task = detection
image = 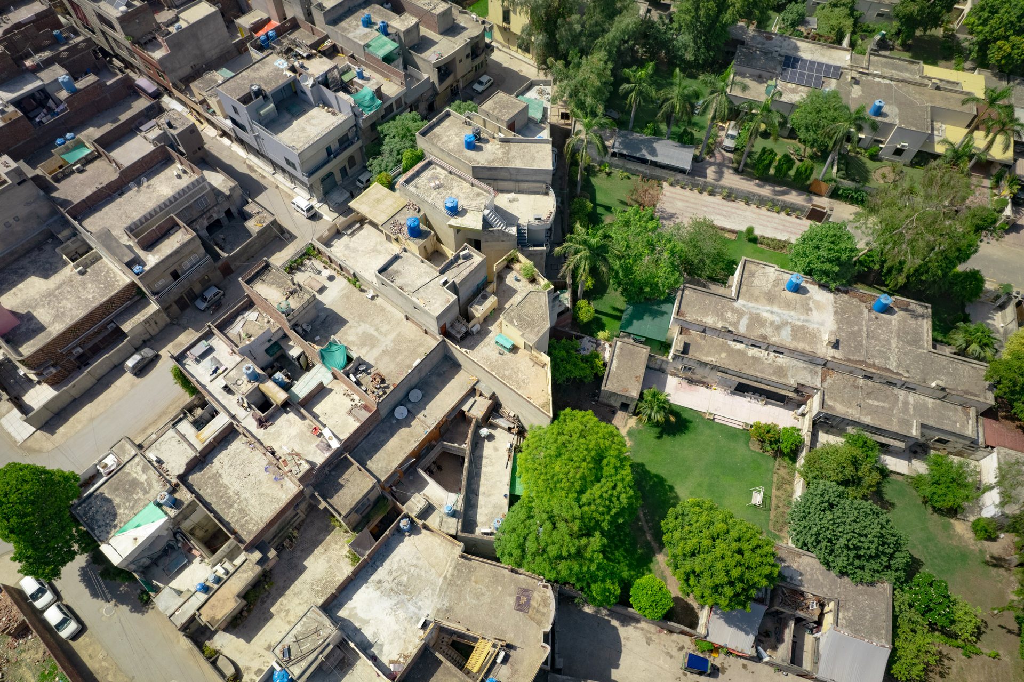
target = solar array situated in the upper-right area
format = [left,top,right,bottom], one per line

[778,56,841,92]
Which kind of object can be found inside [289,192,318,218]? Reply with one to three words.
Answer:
vehicle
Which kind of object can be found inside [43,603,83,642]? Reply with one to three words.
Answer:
car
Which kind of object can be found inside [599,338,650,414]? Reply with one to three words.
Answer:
house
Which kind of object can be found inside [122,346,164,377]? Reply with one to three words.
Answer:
car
